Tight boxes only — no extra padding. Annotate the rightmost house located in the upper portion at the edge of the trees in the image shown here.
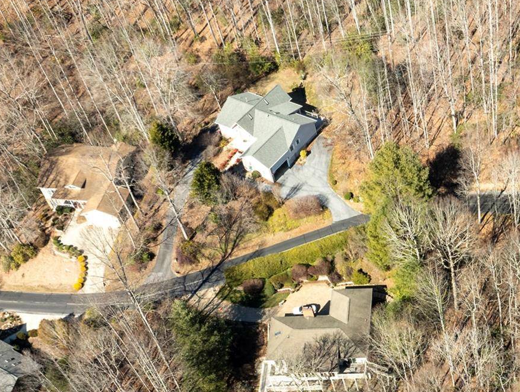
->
[215,85,334,180]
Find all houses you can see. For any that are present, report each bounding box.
[37,137,134,229]
[0,341,42,392]
[215,85,334,180]
[258,288,384,392]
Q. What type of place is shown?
residential area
